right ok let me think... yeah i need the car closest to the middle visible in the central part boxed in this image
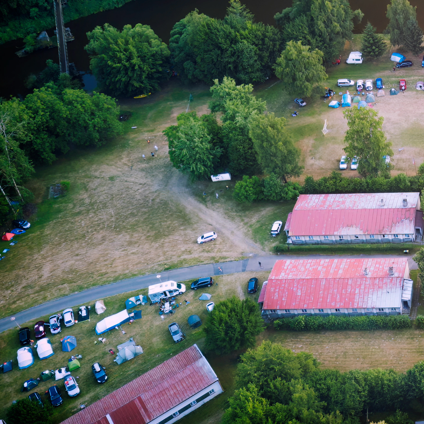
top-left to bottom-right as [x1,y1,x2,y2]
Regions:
[195,230,218,245]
